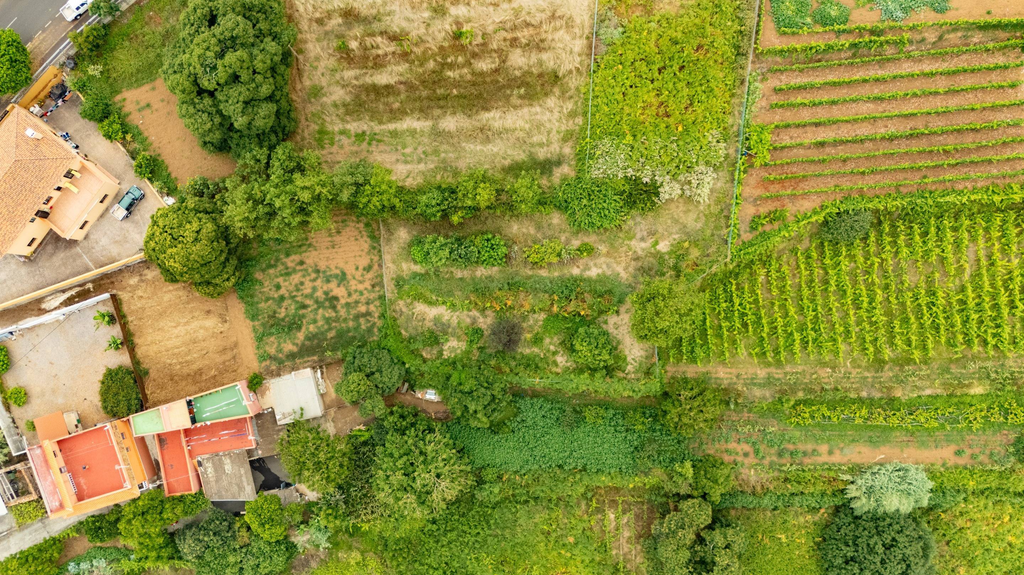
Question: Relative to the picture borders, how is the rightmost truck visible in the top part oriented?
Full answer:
I'd say the rightmost truck visible in the top part is aligned at an angle in the picture.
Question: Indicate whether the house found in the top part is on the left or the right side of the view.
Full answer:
The house found in the top part sits on the left side.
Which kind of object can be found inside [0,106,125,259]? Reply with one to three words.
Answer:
house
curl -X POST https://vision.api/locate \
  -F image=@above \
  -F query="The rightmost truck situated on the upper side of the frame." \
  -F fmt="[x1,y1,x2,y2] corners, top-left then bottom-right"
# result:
[110,186,145,221]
